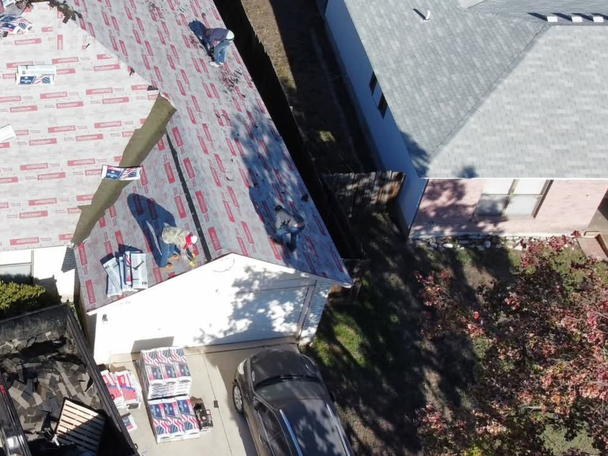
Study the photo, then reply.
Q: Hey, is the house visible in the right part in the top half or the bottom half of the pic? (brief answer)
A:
top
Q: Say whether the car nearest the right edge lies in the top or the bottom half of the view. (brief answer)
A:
bottom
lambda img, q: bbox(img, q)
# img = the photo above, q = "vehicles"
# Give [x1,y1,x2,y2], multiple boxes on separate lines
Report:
[234,341,367,456]
[0,305,139,456]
